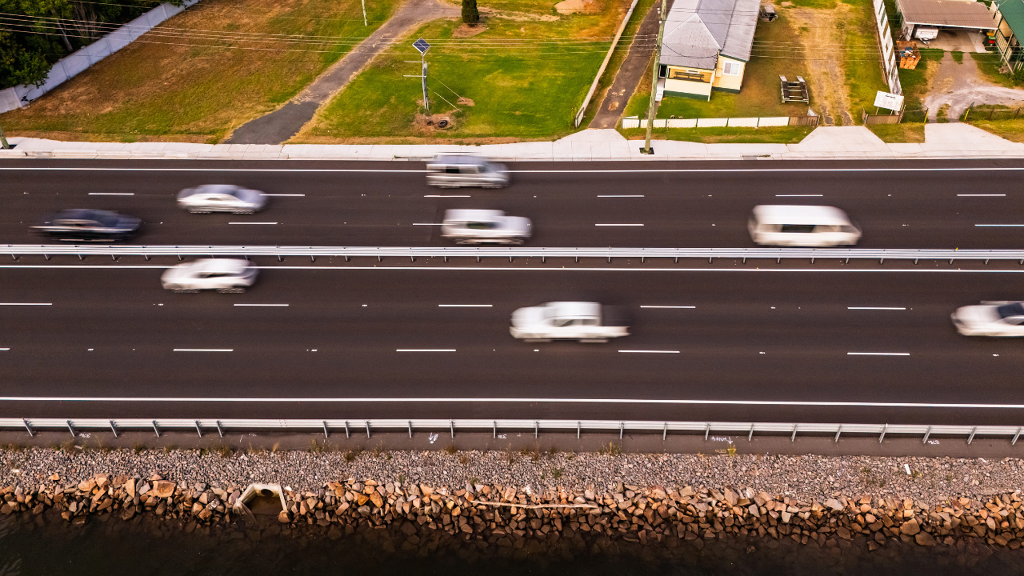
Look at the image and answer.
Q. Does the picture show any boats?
No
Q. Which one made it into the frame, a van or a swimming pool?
van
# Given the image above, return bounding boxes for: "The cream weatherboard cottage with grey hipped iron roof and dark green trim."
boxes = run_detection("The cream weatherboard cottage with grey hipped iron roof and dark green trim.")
[655,0,757,102]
